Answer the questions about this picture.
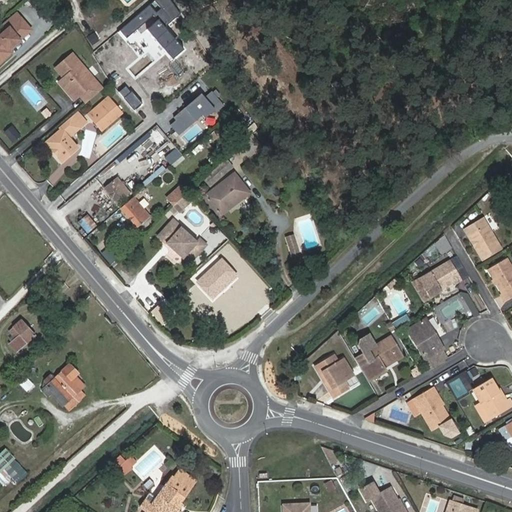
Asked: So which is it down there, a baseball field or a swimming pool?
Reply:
swimming pool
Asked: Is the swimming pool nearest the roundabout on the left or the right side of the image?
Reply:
left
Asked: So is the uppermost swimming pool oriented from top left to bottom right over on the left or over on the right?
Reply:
left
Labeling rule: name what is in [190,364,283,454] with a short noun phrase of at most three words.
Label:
roundabout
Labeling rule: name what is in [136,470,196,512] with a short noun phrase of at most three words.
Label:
house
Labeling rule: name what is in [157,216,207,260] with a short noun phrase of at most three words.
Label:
house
